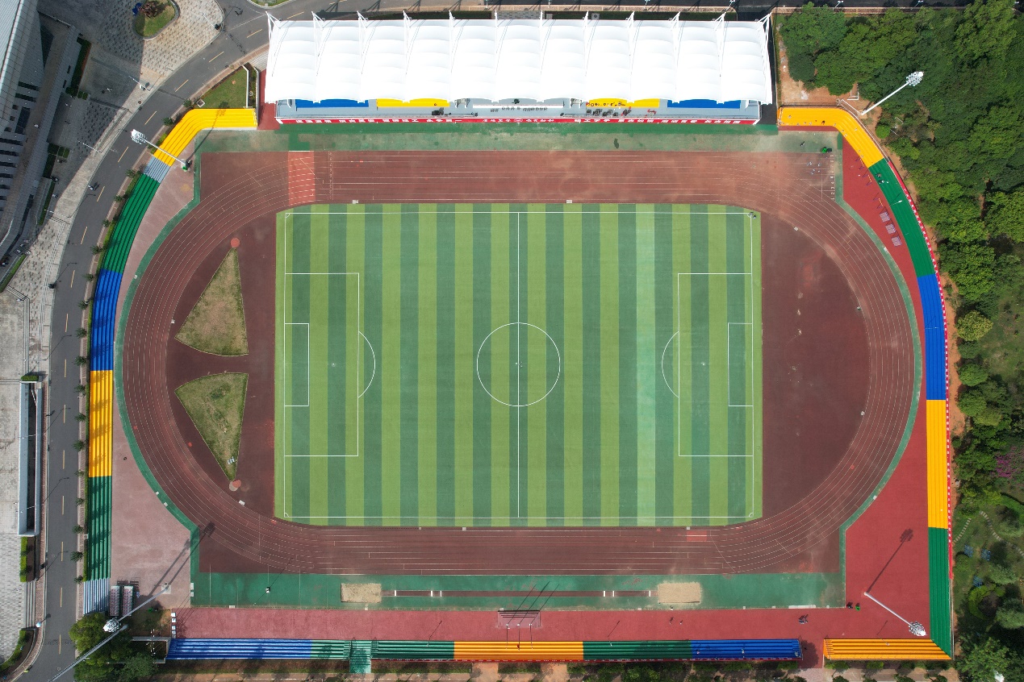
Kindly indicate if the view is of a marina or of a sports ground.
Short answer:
sports ground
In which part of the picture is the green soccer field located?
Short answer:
center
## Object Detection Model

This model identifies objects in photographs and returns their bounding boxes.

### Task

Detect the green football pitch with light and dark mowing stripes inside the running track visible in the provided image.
[275,204,762,528]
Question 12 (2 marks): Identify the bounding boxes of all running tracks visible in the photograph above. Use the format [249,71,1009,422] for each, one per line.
[114,122,922,607]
